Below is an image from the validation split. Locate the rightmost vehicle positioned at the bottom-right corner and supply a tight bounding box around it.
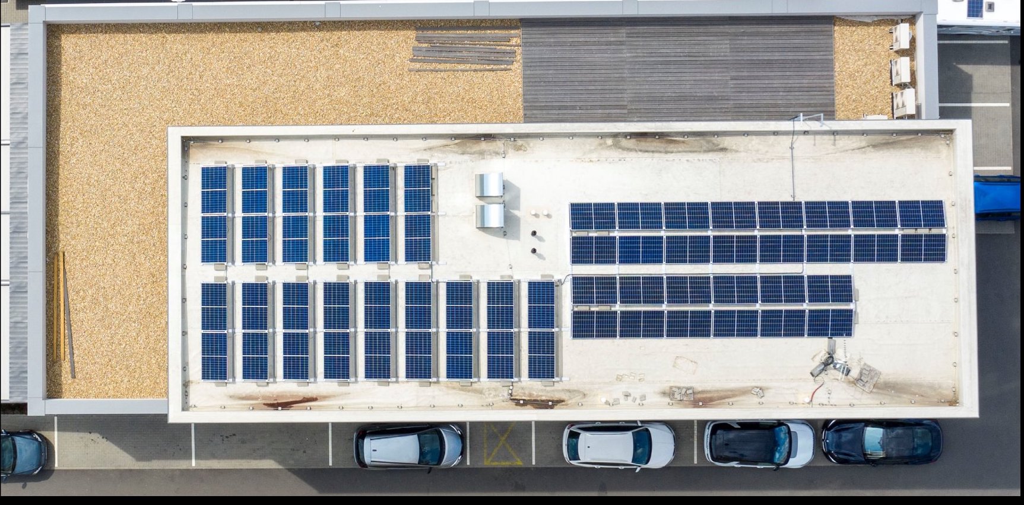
[822,419,944,473]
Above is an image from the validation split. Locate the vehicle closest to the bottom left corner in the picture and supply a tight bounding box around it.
[0,425,47,483]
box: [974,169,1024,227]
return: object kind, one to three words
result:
car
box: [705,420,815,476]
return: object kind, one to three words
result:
car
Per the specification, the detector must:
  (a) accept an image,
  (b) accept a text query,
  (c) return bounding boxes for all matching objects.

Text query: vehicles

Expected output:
[974,169,1024,227]
[563,421,675,477]
[0,425,47,483]
[822,419,944,473]
[354,422,464,476]
[937,0,1024,35]
[705,420,815,476]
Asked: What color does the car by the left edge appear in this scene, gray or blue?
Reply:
blue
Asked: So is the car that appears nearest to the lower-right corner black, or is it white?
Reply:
black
